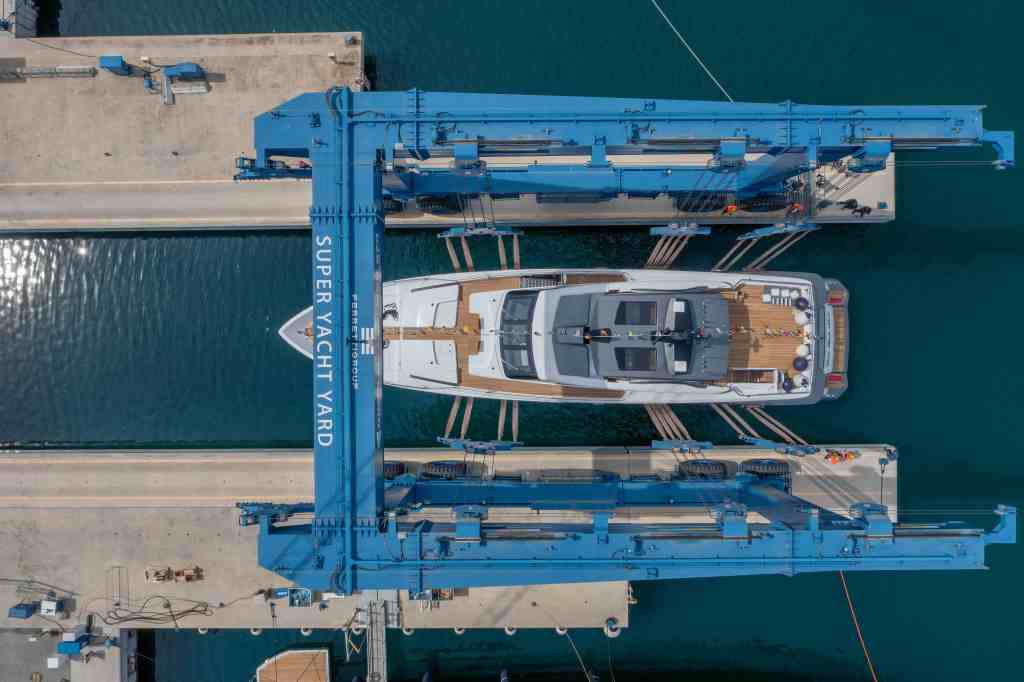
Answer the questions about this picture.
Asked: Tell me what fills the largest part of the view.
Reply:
water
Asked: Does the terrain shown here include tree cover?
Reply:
No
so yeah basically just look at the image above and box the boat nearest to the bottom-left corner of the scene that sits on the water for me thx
[256,640,333,682]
